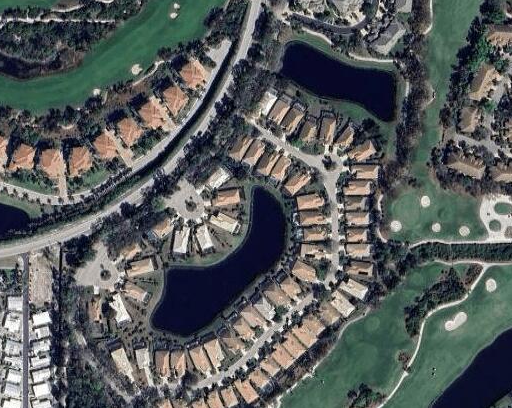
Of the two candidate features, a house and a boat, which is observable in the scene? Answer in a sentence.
The image shows a house.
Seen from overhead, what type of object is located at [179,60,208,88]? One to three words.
house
